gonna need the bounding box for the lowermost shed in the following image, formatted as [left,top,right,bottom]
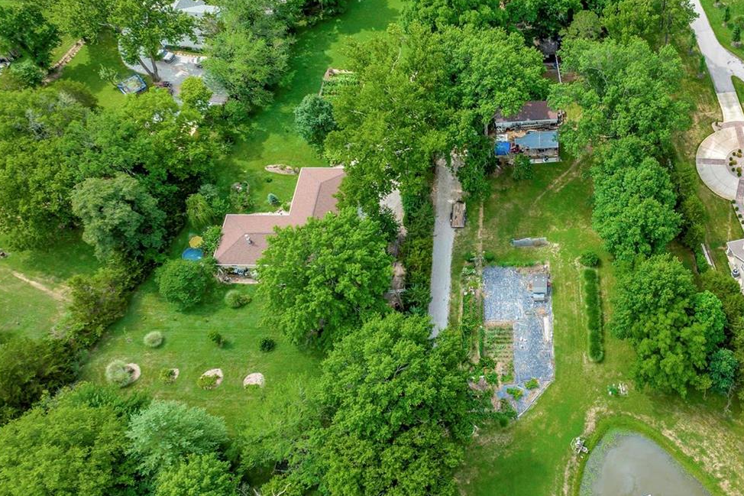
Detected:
[531,276,548,302]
